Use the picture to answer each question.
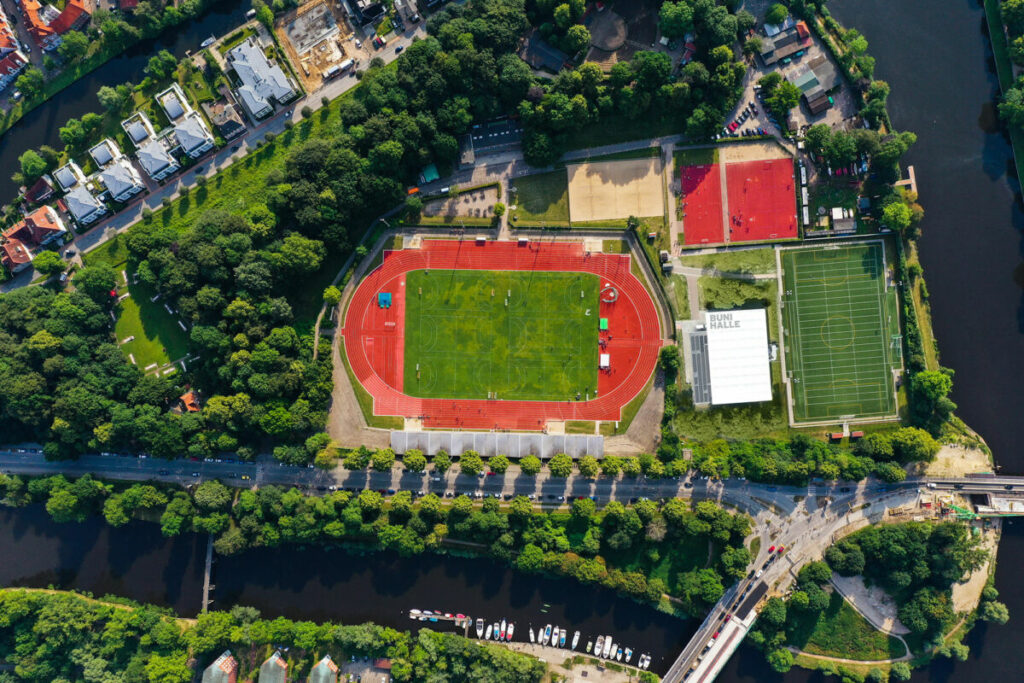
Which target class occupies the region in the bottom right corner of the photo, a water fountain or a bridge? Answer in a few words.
bridge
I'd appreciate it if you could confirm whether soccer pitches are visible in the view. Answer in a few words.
Yes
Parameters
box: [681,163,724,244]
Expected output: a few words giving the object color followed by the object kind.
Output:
red sports court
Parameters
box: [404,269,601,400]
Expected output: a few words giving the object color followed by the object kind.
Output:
green soccer field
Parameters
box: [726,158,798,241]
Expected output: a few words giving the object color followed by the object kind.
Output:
red sports court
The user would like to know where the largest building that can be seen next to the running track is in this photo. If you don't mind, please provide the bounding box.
[703,309,772,404]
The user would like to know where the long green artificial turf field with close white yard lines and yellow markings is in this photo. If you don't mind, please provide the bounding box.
[776,239,901,427]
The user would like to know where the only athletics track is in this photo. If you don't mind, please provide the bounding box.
[339,235,664,434]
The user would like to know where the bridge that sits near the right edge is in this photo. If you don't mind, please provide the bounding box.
[926,478,1024,523]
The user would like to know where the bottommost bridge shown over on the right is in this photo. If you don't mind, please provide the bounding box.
[662,557,768,683]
